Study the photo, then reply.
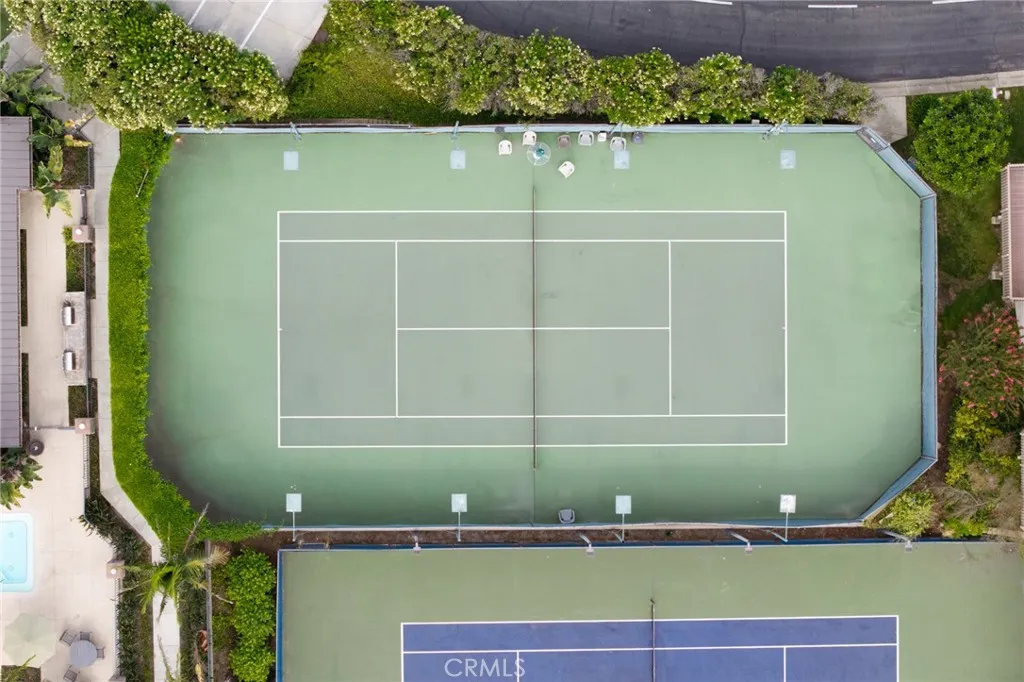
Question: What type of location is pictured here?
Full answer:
The picture captures a sports ground.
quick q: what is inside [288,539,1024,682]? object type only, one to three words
tennis court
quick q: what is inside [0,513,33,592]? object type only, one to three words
swimming pool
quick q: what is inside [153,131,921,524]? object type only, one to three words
tennis court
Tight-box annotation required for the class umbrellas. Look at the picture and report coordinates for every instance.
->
[5,611,56,663]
